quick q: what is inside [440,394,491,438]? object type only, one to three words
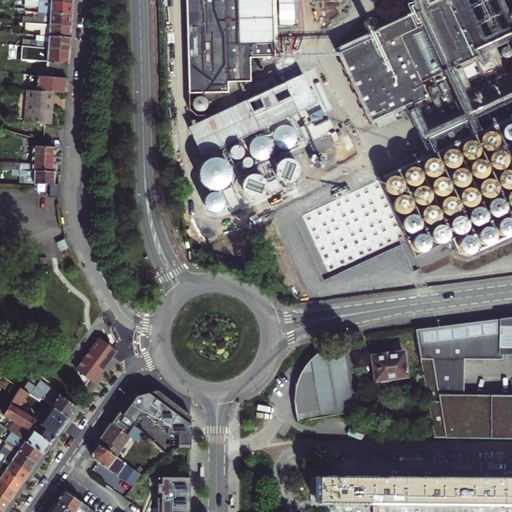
building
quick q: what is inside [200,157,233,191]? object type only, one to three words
storage tank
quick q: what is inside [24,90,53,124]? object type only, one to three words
house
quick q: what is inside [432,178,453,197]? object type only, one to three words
silo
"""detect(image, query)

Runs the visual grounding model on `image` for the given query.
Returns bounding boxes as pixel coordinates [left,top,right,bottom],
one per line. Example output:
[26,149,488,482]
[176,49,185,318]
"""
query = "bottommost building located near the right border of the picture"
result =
[314,475,512,506]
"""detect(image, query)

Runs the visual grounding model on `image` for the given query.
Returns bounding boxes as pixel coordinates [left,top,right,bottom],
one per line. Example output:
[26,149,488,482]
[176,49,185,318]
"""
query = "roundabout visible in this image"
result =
[151,274,277,400]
